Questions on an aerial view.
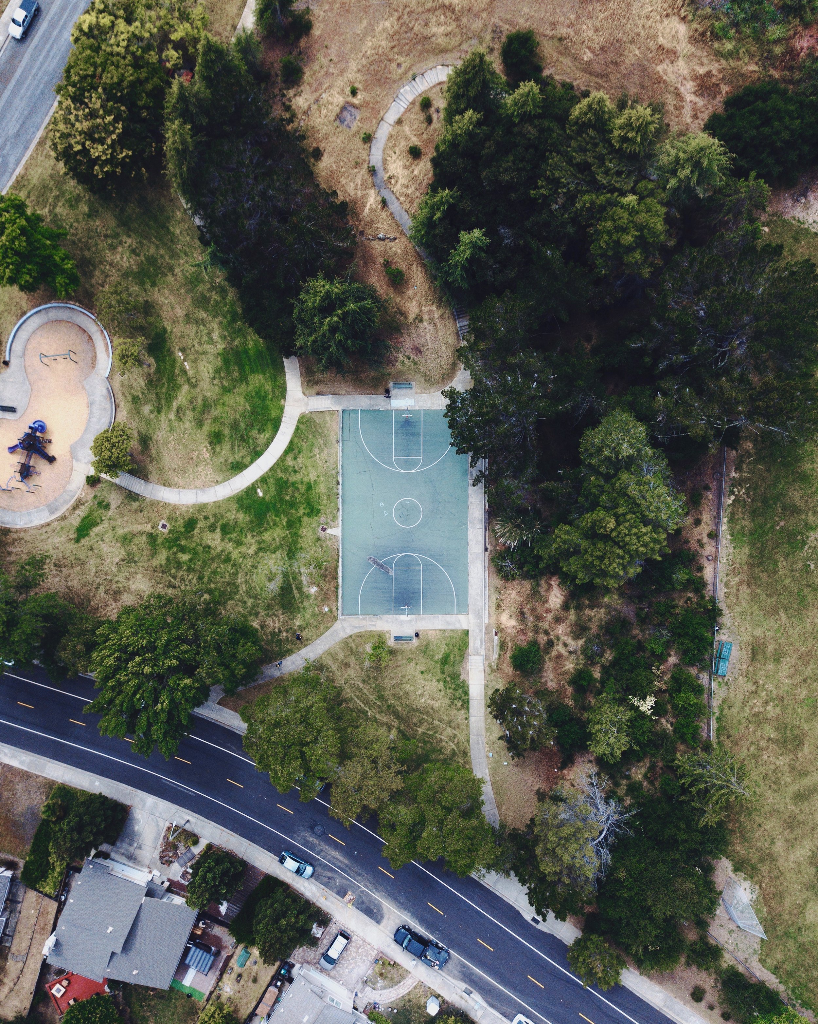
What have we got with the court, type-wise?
basketball court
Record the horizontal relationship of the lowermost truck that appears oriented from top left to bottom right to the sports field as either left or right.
left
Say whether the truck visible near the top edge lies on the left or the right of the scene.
left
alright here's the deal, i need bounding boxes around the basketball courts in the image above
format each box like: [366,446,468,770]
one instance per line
[342,410,469,615]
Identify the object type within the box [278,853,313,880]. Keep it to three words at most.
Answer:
car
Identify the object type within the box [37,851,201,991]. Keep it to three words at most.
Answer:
house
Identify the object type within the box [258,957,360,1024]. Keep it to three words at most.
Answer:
house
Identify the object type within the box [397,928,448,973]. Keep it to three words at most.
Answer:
truck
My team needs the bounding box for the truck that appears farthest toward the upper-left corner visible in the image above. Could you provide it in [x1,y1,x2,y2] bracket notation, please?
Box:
[2,0,37,37]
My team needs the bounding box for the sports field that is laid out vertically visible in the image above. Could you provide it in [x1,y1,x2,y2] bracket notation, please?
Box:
[718,224,818,1009]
